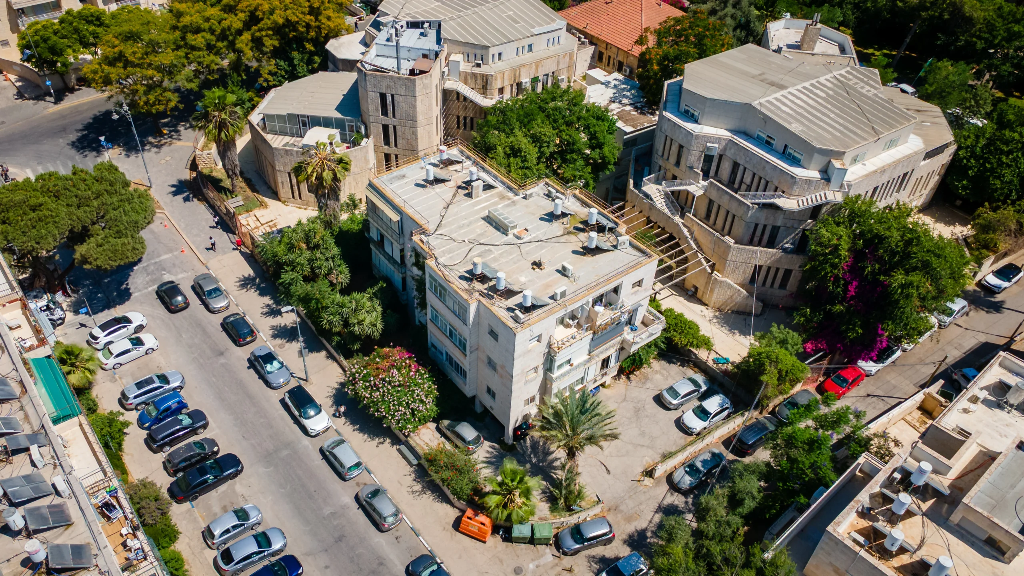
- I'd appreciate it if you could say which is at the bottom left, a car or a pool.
car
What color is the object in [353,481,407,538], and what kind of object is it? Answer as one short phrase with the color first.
gray car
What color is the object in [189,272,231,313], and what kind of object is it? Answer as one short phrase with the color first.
gray car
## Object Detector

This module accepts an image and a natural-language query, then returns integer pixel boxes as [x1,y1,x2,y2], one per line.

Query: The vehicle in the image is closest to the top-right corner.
[985,258,1024,291]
